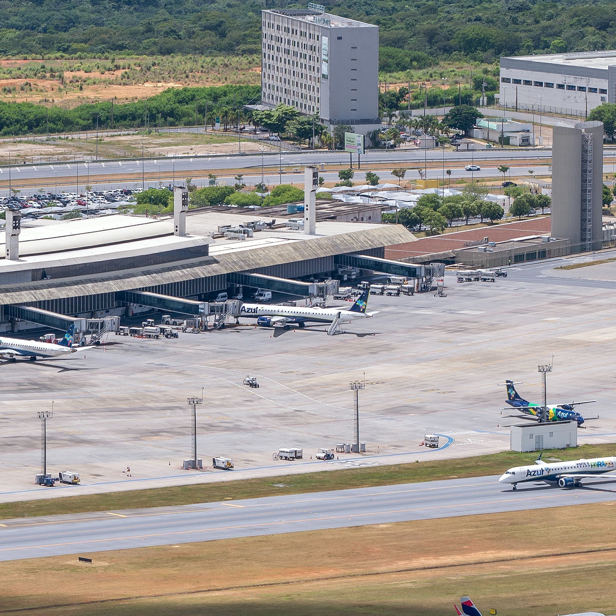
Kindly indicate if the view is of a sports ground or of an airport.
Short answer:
airport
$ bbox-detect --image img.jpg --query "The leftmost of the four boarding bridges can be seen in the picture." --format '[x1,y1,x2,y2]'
[4,304,122,350]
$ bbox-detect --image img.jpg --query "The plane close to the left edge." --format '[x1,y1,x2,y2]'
[0,321,95,361]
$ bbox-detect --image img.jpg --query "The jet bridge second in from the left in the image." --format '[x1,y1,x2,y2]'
[121,289,241,332]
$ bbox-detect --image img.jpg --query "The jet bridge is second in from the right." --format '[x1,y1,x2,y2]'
[230,272,341,308]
